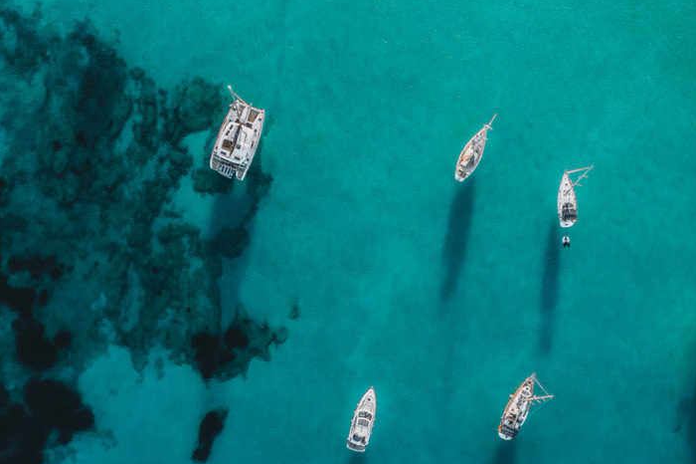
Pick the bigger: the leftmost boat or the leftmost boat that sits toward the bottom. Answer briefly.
the leftmost boat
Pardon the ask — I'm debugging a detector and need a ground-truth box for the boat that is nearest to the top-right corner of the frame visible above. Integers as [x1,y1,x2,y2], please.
[555,163,597,228]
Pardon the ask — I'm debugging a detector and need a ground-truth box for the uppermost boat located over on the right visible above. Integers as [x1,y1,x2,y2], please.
[456,116,496,183]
